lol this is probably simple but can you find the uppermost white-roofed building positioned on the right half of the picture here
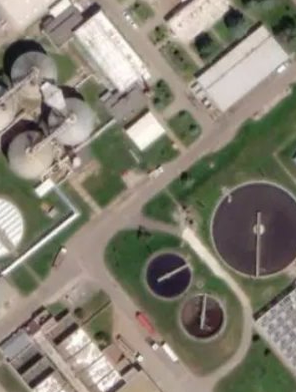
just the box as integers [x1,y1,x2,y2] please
[168,0,237,41]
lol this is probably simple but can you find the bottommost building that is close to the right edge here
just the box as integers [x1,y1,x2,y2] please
[198,26,288,113]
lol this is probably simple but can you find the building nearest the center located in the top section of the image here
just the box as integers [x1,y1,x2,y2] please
[125,112,165,151]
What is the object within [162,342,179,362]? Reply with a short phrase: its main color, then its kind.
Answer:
white vehicle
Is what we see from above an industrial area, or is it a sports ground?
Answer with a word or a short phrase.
industrial area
